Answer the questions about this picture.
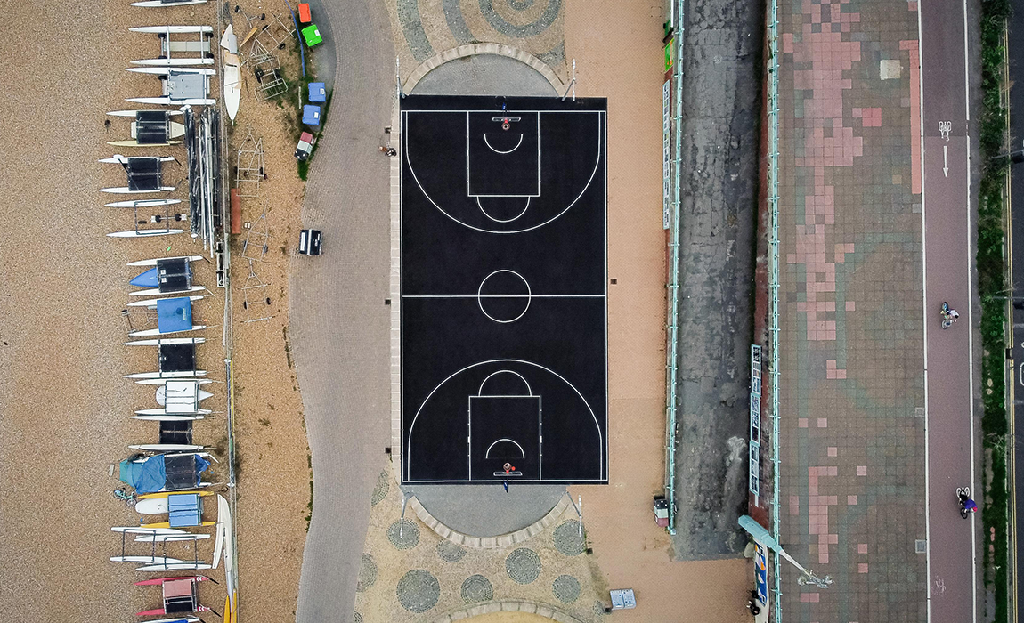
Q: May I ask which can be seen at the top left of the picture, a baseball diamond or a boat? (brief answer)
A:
boat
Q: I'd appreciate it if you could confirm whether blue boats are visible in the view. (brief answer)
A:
Yes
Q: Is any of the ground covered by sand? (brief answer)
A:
Yes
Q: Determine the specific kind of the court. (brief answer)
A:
basketball court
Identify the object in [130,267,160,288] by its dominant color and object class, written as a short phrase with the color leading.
blue boat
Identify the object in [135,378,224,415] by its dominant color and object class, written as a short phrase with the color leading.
white boat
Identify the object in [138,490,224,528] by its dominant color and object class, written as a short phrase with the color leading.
blue boat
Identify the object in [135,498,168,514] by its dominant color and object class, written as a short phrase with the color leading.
white boat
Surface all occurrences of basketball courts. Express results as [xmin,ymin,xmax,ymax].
[400,97,608,484]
